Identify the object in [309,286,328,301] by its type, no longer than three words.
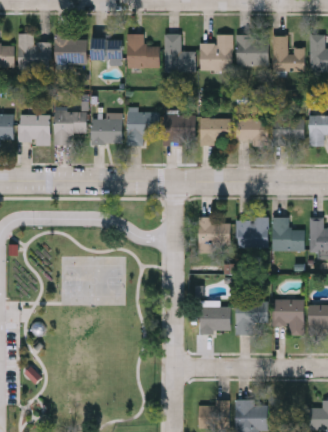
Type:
swimming pool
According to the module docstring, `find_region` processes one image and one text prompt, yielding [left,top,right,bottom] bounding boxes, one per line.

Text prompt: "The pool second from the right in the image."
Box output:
[277,278,305,296]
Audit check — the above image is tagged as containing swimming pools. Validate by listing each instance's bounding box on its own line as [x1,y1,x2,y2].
[98,66,123,84]
[204,280,230,300]
[309,286,328,301]
[277,278,305,296]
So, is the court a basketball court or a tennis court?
basketball court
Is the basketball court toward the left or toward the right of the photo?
left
